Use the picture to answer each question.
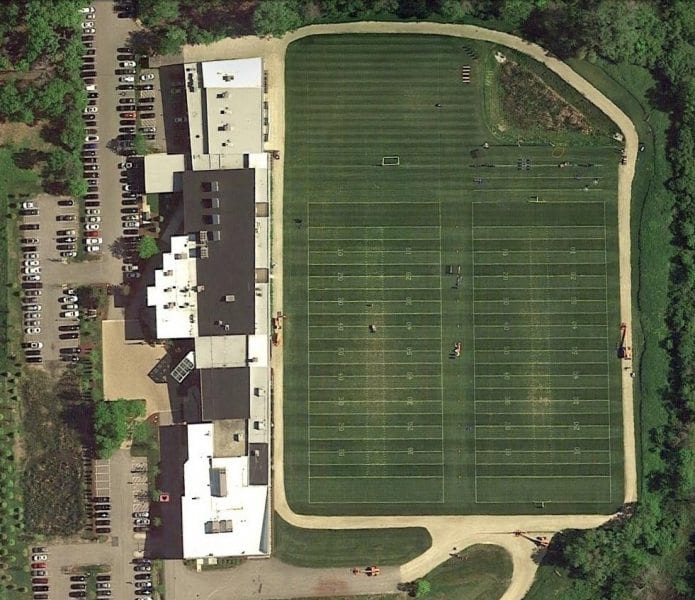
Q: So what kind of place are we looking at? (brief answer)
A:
sports ground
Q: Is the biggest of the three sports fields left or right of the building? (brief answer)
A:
to its right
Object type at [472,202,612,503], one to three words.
sports field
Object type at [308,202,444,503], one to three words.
sports field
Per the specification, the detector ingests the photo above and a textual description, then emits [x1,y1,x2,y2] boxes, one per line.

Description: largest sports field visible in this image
[283,33,624,516]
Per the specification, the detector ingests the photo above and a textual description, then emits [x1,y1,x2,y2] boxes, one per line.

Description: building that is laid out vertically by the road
[145,58,274,558]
